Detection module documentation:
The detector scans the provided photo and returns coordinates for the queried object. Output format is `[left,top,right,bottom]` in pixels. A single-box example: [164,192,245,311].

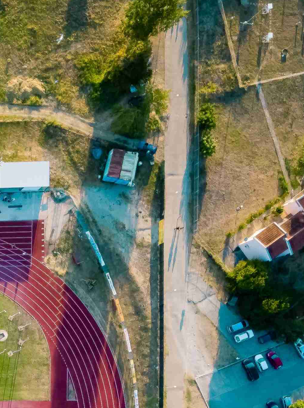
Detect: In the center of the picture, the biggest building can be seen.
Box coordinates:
[100,149,140,186]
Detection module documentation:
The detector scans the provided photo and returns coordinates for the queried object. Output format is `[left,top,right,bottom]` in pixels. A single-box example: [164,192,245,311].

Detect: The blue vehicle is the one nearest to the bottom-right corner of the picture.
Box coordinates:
[279,395,293,408]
